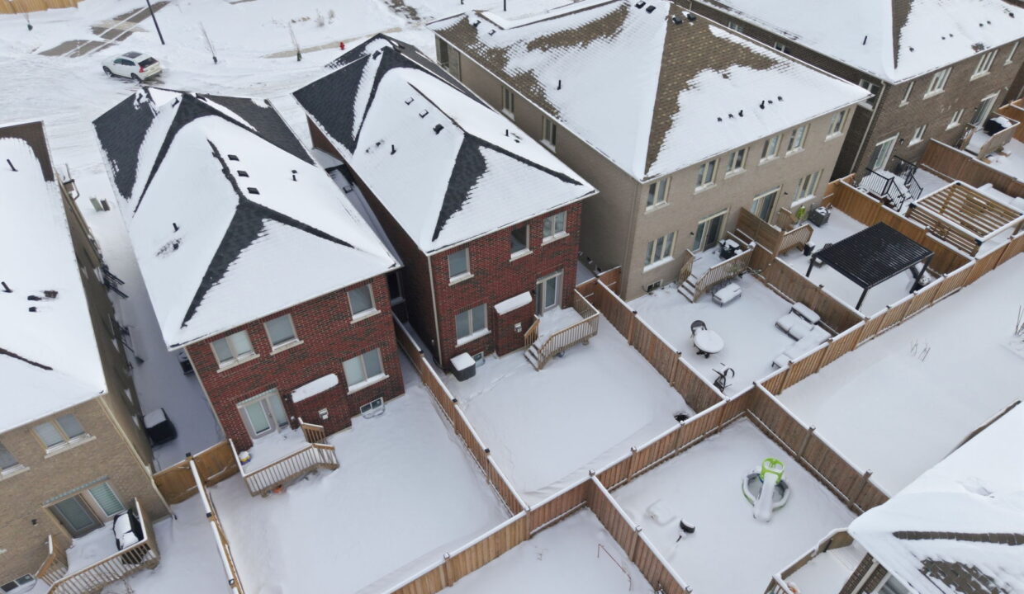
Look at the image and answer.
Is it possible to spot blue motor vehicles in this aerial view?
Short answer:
No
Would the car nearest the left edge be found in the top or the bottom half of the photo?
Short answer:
top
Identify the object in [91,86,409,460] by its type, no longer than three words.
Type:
house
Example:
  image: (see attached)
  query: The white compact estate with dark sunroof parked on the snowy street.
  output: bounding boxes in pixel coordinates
[101,48,165,83]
